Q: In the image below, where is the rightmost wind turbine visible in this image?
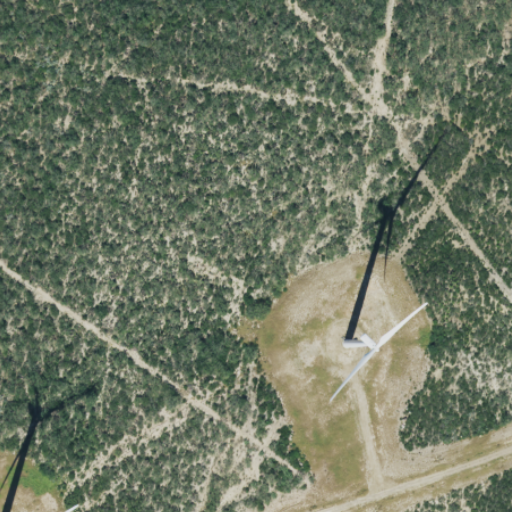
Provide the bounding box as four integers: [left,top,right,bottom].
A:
[330,303,427,400]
